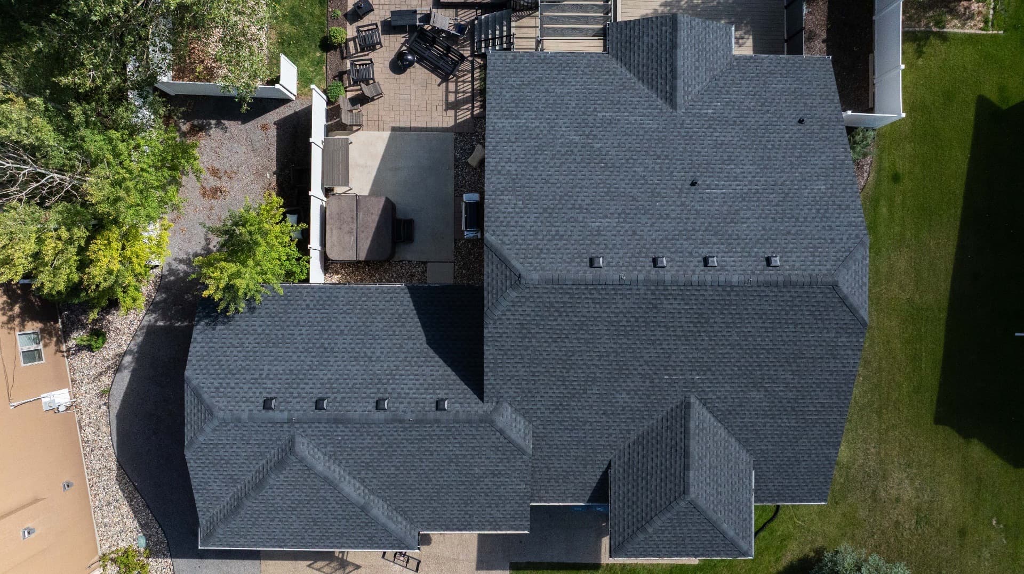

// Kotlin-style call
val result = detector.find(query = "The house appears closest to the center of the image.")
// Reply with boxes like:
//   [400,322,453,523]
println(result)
[180,13,872,562]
